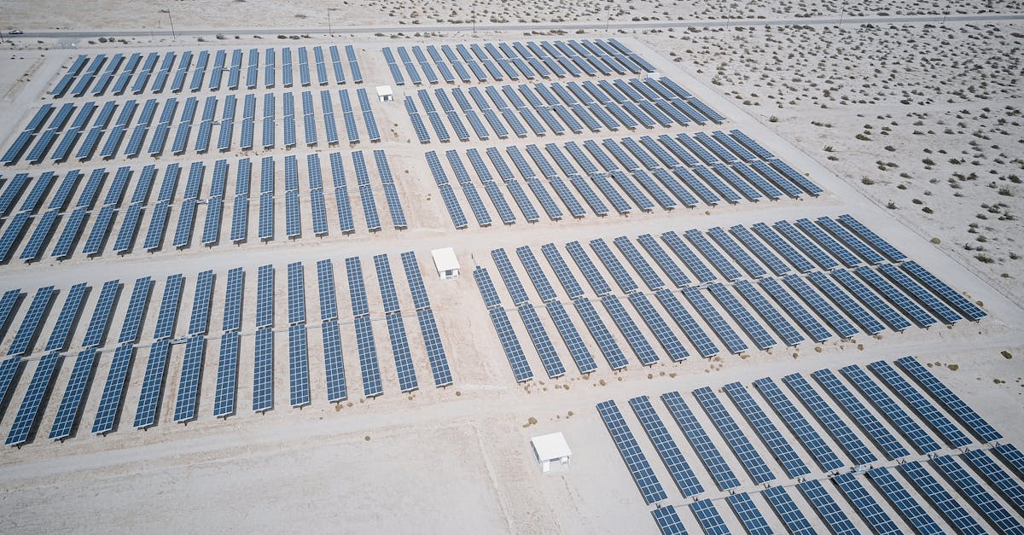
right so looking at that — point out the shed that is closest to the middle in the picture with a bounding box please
[431,248,461,281]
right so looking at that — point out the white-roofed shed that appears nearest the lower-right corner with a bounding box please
[530,433,571,472]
